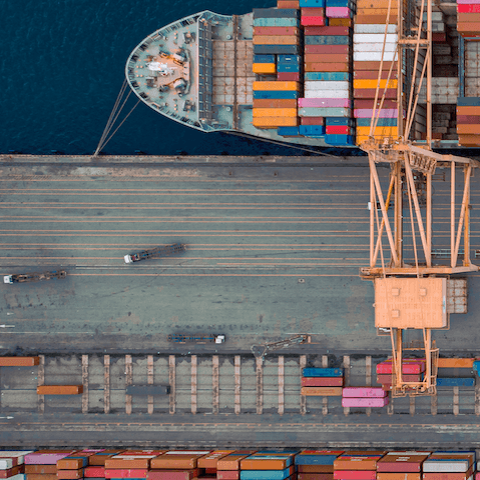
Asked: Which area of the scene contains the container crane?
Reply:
right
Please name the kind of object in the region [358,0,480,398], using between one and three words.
container crane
